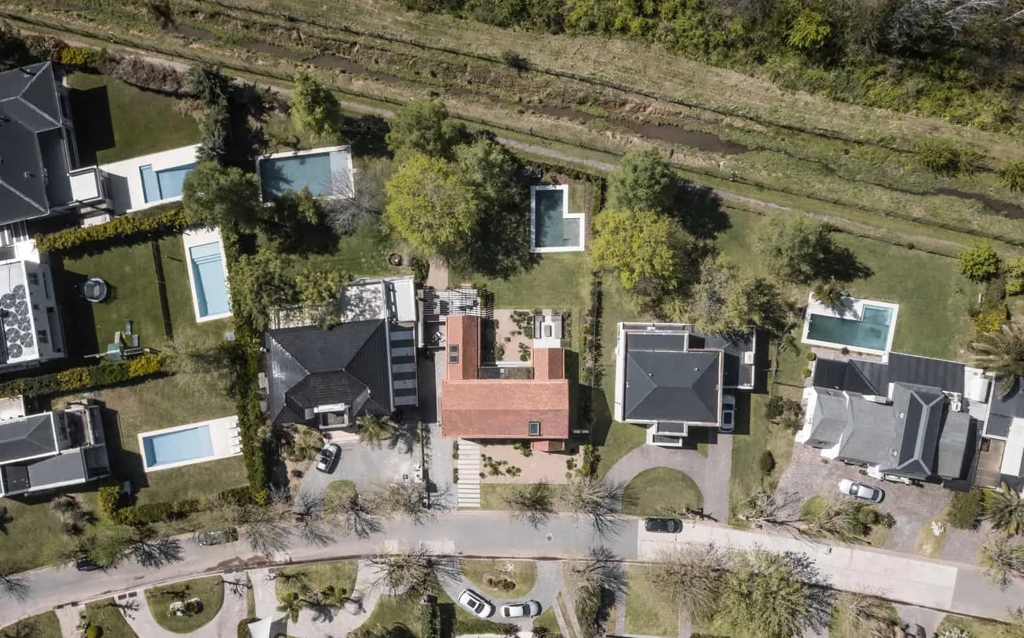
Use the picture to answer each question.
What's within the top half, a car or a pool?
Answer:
pool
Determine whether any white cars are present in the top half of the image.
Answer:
No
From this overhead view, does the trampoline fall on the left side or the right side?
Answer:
left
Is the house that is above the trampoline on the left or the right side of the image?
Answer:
left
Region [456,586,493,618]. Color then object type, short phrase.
white car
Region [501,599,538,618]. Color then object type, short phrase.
white car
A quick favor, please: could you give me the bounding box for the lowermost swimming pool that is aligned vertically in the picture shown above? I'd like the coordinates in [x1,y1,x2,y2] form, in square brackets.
[182,226,232,322]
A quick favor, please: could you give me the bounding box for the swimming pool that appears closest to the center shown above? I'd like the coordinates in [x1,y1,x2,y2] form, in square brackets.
[531,185,585,253]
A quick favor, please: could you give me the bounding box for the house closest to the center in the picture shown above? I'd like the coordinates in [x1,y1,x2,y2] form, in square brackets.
[442,315,569,450]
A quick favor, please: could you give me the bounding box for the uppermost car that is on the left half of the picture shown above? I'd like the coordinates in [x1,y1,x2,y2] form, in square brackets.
[316,441,341,473]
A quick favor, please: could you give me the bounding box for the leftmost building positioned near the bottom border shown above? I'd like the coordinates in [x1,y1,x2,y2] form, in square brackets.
[249,608,293,638]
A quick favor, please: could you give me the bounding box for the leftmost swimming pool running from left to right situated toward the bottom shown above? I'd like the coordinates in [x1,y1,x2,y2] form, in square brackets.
[138,415,244,472]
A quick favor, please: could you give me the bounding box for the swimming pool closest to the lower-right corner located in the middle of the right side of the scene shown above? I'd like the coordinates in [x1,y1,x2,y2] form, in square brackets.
[801,292,899,355]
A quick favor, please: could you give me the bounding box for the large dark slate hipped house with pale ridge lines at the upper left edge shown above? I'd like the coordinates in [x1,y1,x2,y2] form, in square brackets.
[0,61,117,231]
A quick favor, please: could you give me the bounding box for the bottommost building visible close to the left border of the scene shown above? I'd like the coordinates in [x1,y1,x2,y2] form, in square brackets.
[0,394,112,497]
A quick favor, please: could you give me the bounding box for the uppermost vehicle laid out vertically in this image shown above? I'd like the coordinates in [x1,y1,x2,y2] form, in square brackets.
[719,396,737,433]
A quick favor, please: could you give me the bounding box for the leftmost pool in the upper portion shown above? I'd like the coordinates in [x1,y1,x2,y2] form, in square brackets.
[99,144,206,217]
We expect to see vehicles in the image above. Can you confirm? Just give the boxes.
[838,478,883,502]
[501,599,538,618]
[316,441,341,473]
[902,620,922,638]
[456,586,493,618]
[644,517,681,534]
[75,552,109,572]
[719,396,737,433]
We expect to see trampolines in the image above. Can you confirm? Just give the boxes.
[83,278,111,301]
